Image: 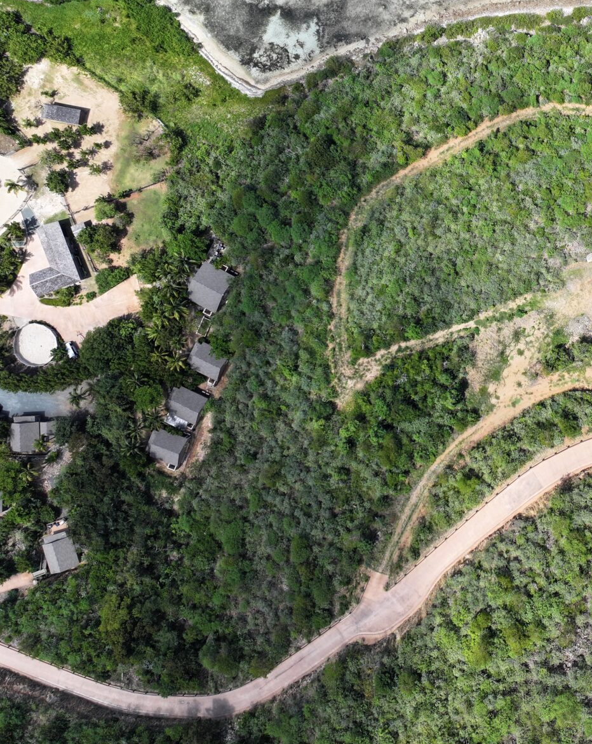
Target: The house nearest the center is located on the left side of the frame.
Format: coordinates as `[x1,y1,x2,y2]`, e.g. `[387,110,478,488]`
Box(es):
[187,342,229,382]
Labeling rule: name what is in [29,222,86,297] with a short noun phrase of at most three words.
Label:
building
